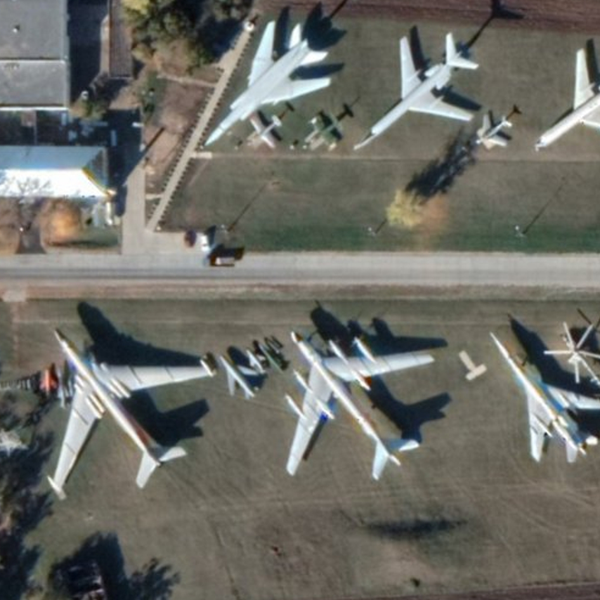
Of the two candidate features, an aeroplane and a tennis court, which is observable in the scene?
aeroplane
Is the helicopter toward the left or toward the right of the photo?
right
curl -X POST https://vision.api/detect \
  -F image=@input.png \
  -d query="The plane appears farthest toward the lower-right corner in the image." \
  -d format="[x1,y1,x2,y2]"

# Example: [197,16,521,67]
[489,332,600,464]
